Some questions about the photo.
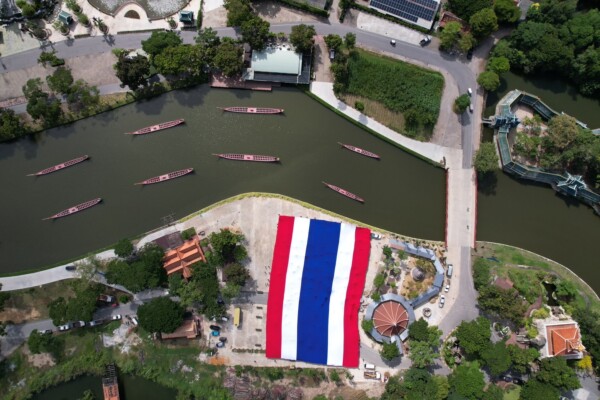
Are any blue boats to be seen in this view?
No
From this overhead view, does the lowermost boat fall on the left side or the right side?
left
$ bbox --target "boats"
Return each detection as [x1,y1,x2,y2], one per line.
[219,106,284,112]
[26,155,88,176]
[127,119,185,134]
[214,153,281,160]
[339,142,381,158]
[42,198,101,219]
[323,182,366,201]
[134,168,194,184]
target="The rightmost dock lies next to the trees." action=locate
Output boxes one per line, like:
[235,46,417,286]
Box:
[210,72,281,91]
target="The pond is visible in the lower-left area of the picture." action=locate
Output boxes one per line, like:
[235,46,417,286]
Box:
[30,373,180,400]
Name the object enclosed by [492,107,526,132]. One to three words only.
building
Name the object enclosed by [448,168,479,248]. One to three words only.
bridge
